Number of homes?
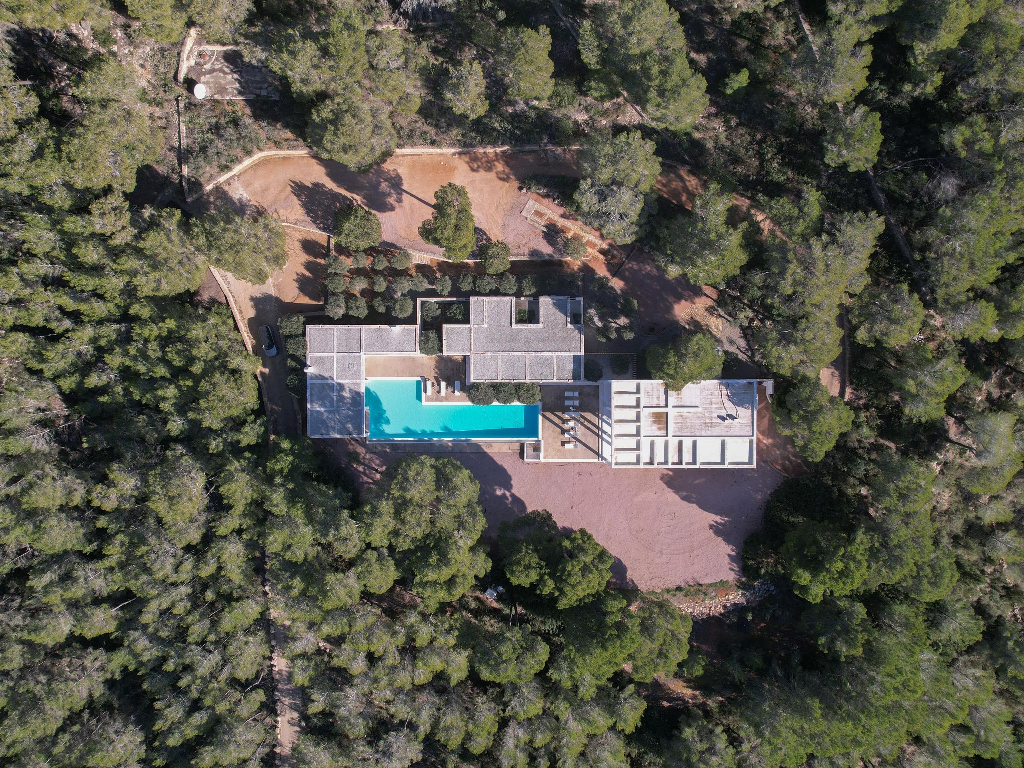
three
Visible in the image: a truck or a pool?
pool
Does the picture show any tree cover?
Yes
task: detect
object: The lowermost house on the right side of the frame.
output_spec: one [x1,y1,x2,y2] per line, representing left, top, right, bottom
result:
[603,380,758,469]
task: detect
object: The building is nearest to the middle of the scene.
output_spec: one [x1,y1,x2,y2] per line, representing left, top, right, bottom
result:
[442,296,584,385]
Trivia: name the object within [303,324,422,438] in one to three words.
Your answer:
house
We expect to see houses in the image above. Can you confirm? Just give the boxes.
[603,380,758,469]
[442,296,584,385]
[303,324,422,438]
